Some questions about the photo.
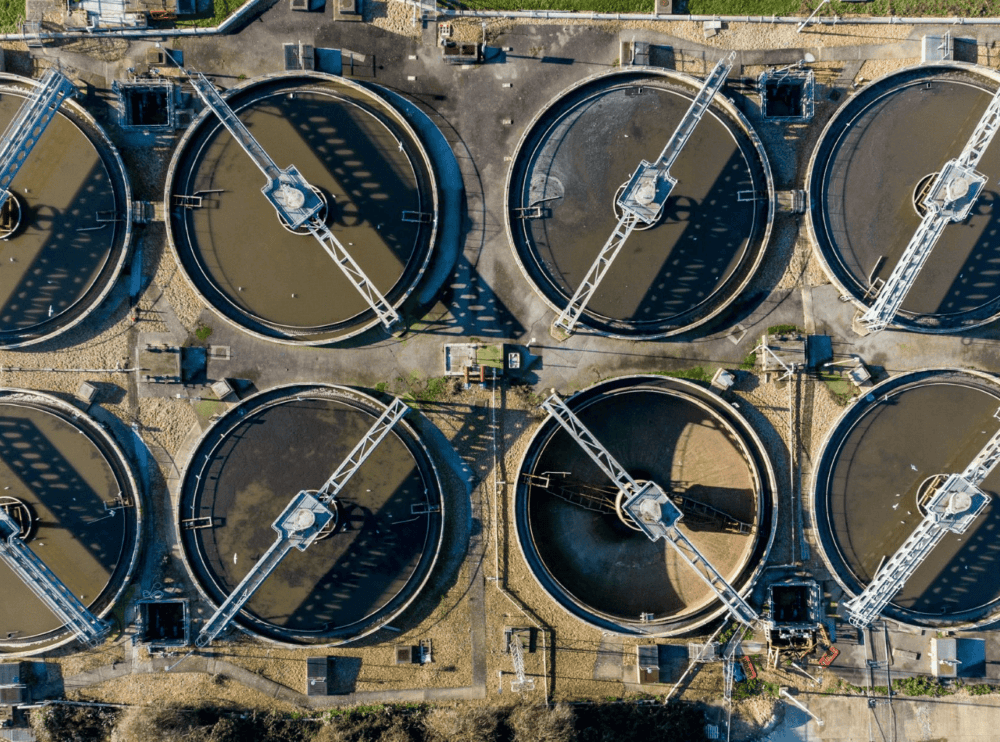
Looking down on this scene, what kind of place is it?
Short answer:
industrial area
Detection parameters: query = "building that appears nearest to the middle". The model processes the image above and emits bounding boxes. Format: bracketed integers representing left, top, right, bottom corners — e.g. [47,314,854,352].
[444,343,503,377]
